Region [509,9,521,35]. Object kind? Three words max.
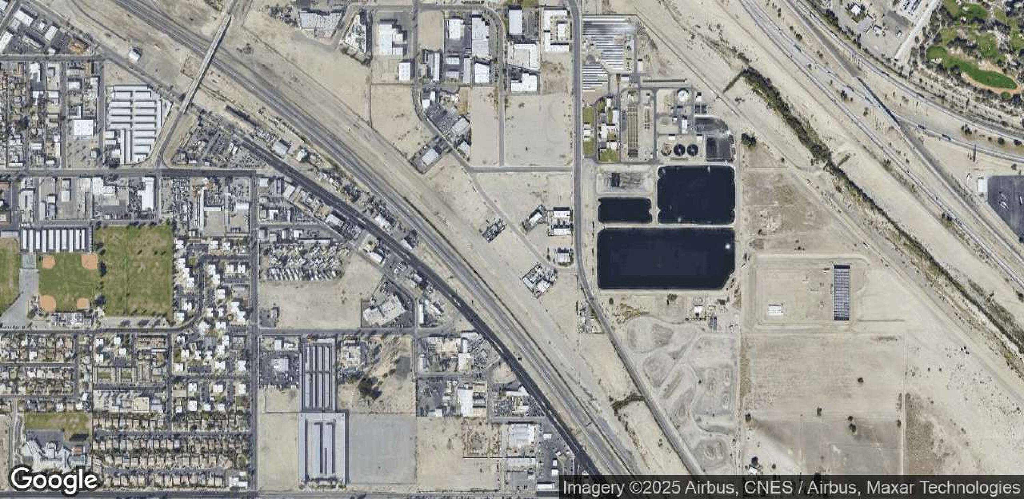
building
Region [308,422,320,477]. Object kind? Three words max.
building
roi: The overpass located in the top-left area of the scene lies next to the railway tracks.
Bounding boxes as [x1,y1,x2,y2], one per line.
[156,0,245,169]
